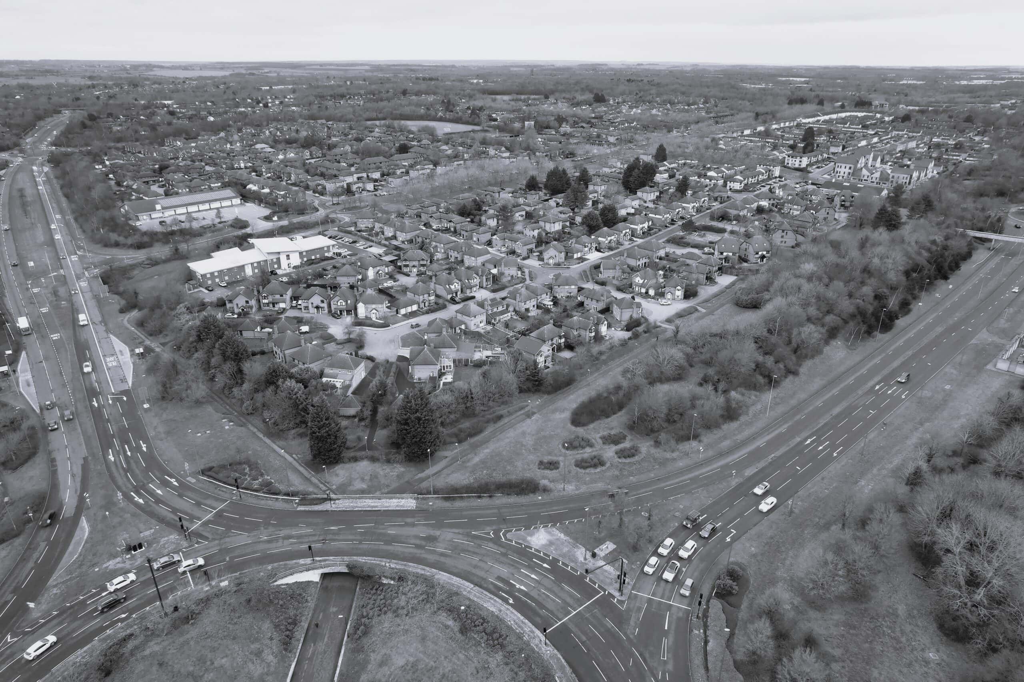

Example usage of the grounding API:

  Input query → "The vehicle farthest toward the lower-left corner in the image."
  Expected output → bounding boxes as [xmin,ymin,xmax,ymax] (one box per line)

[20,634,60,661]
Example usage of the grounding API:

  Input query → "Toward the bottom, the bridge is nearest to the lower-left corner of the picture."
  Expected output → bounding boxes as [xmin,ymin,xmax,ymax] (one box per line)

[271,570,399,591]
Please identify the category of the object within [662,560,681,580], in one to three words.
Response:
car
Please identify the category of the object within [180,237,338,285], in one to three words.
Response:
building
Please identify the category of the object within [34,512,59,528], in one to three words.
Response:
car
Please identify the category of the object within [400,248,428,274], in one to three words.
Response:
house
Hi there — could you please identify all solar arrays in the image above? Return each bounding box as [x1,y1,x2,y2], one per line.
[163,192,234,207]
